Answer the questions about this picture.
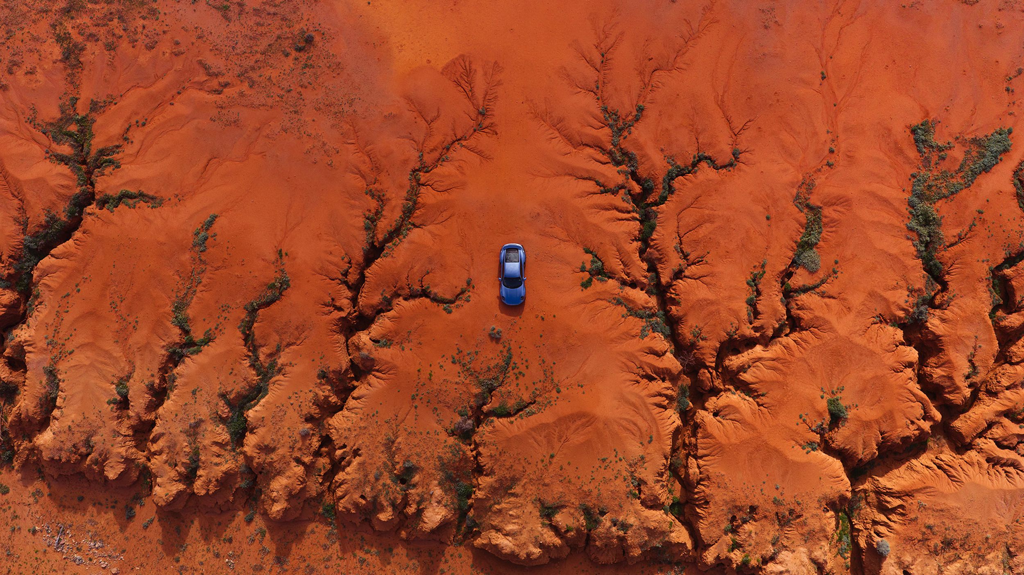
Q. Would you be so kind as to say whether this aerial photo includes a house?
No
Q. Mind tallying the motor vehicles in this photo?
1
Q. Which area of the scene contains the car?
center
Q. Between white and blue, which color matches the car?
blue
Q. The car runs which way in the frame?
vertically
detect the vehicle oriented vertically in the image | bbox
[498,243,528,306]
